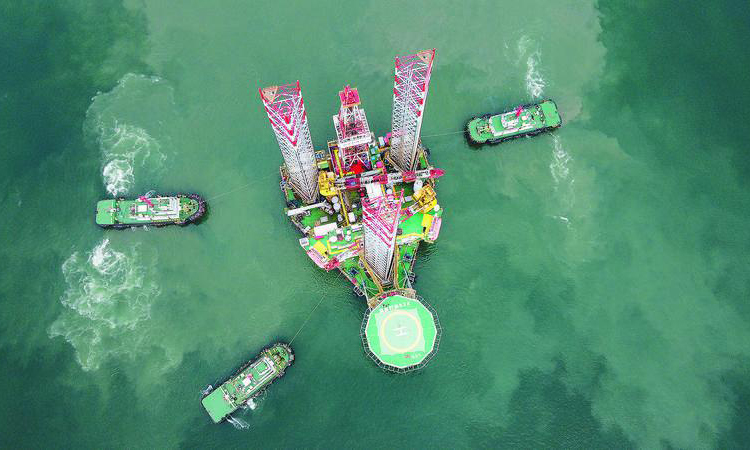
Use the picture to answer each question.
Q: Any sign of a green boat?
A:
Yes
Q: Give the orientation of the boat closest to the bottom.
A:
at an angle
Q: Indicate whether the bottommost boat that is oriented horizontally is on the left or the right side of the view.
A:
left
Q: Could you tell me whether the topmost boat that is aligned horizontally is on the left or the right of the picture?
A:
right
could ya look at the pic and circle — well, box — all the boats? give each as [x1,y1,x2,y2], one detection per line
[304,249,324,270]
[434,214,442,240]
[467,100,562,144]
[203,342,294,427]
[95,191,204,229]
